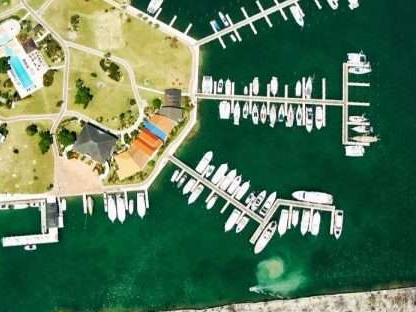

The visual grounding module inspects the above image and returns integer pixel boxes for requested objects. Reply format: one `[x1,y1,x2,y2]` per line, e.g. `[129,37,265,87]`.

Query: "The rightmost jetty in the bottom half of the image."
[169,154,335,242]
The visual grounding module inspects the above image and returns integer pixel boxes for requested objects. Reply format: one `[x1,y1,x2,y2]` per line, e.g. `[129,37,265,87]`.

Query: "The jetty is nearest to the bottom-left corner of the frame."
[3,202,58,247]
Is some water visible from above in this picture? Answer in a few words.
Yes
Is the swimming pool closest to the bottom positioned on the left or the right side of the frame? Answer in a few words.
left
